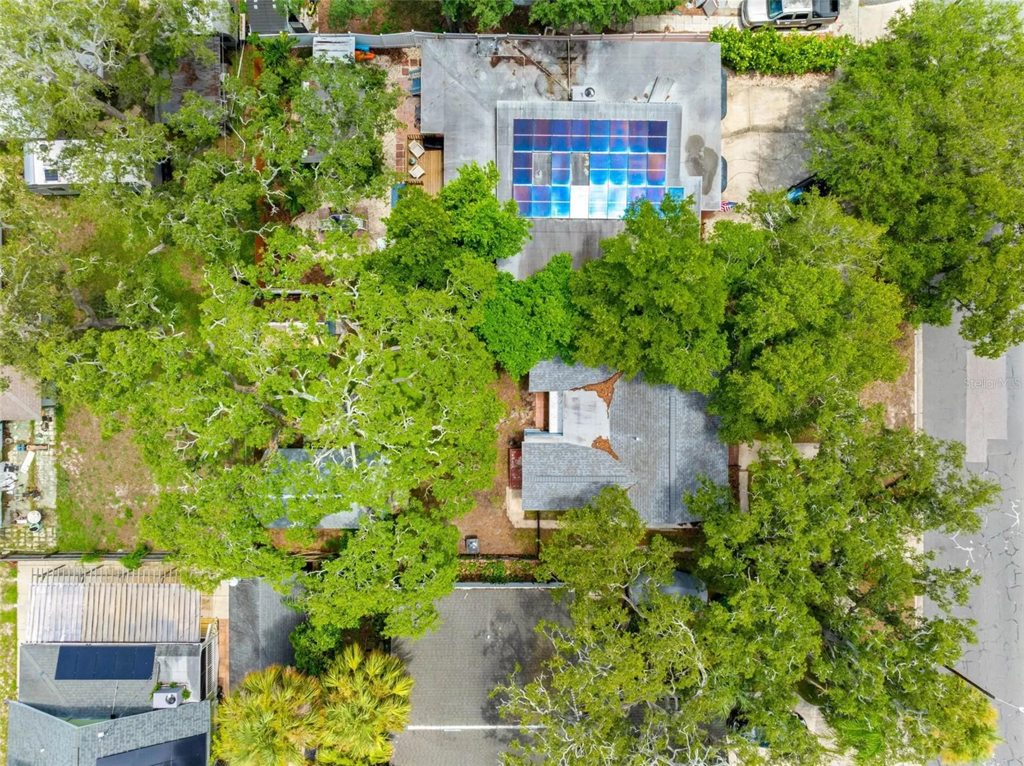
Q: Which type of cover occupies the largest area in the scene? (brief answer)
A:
trees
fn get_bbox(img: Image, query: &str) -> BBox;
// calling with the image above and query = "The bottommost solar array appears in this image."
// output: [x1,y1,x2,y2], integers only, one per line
[97,735,206,766]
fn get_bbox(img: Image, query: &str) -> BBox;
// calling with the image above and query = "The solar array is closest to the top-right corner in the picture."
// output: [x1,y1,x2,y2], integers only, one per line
[514,118,686,220]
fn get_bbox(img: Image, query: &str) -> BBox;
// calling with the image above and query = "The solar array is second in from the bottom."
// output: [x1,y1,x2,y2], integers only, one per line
[55,646,155,680]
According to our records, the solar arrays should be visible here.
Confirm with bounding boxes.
[514,118,686,220]
[55,646,155,680]
[97,735,206,766]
